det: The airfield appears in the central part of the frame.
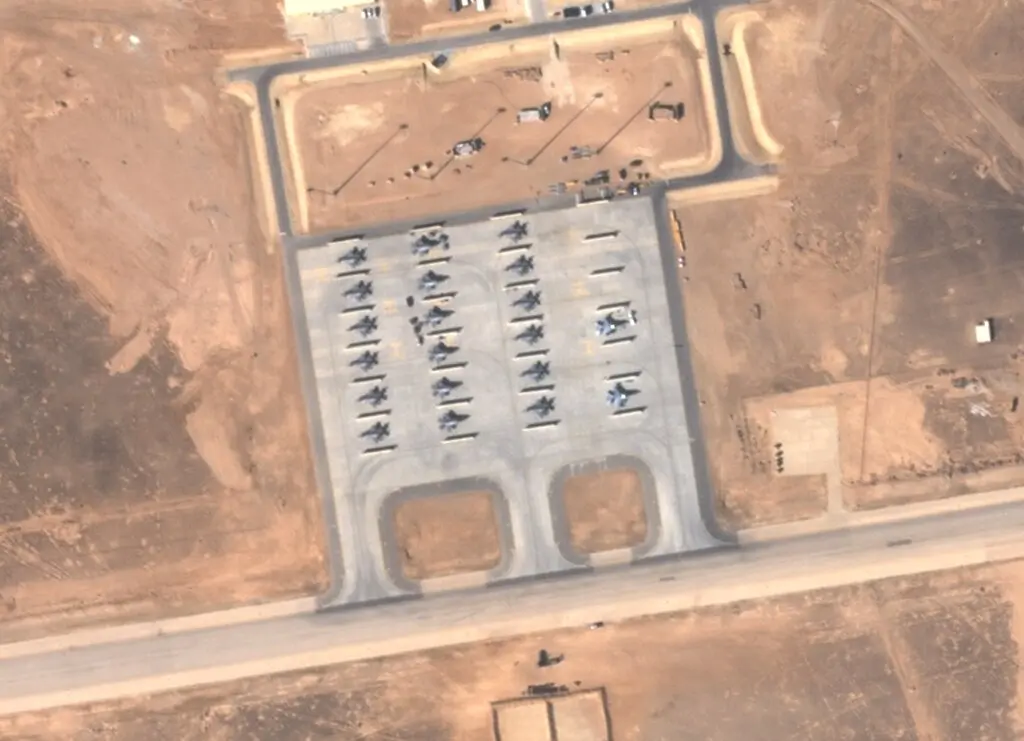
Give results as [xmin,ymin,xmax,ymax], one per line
[0,183,1024,715]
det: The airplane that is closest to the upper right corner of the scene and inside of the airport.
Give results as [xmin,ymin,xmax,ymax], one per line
[596,318,624,338]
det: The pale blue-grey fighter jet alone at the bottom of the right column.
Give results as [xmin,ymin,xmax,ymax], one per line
[608,388,637,408]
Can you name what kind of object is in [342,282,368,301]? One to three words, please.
airplane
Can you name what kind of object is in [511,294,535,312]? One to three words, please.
airplane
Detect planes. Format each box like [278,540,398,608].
[360,424,386,443]
[342,282,368,301]
[357,389,382,407]
[351,353,375,371]
[412,237,437,256]
[608,388,637,408]
[519,364,545,382]
[338,249,363,267]
[504,258,530,277]
[348,317,372,335]
[440,413,466,431]
[511,294,535,312]
[498,223,524,242]
[596,318,624,338]
[514,328,539,346]
[419,274,444,292]
[429,345,455,363]
[426,308,451,327]
[433,379,459,398]
[523,400,549,419]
